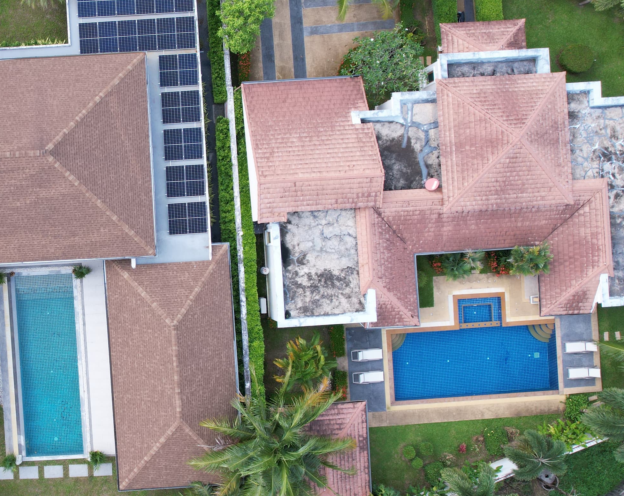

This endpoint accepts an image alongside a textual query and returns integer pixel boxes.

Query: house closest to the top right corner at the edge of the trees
[238,17,624,329]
